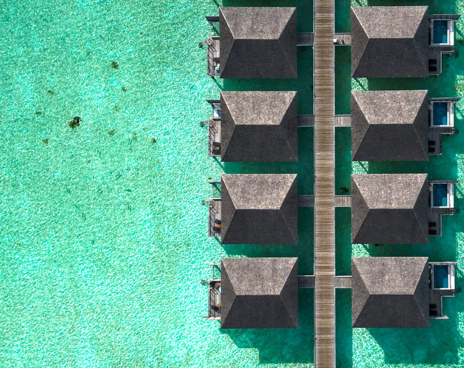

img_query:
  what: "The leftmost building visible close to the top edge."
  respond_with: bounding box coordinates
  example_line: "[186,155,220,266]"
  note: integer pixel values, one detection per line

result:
[201,6,297,79]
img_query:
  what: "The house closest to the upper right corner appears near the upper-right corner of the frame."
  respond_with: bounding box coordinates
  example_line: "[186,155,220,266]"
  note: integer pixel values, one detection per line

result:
[351,5,461,78]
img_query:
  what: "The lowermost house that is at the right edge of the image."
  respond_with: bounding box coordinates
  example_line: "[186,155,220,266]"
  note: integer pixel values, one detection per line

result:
[352,256,462,329]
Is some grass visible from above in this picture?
No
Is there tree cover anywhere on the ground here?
No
